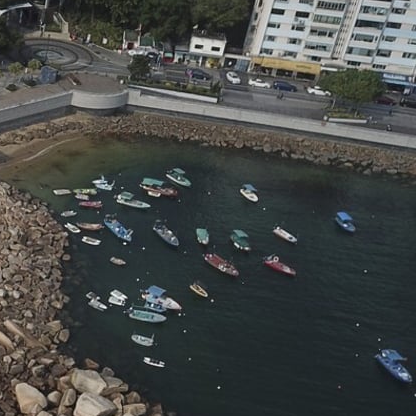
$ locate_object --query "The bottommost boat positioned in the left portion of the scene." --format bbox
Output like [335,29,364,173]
[143,355,166,367]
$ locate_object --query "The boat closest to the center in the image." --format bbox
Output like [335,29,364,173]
[194,223,211,243]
